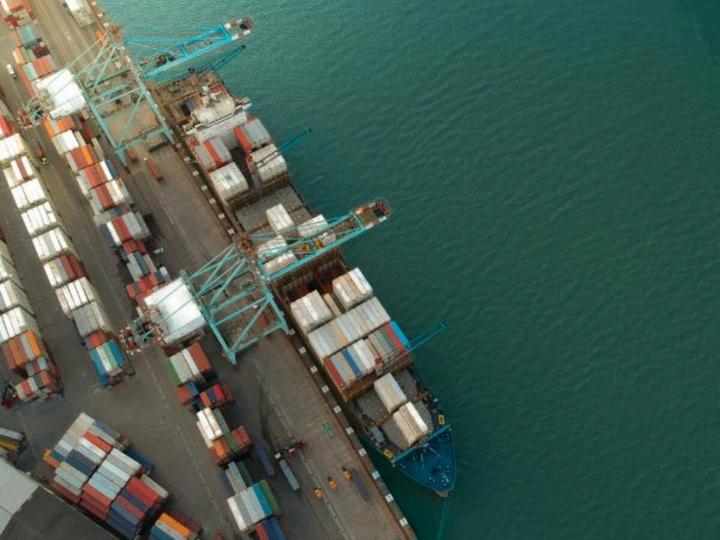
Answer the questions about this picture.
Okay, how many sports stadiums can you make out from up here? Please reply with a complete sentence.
The picture shows no sports stadiums.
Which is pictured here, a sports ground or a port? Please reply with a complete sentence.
This looks like a port.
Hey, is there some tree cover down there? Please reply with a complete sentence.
No, there's no tree cover in this view.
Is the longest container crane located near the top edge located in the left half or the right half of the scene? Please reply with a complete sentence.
The longest container crane located near the top edge appears in the left half of the scene.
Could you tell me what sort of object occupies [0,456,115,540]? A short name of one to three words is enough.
shed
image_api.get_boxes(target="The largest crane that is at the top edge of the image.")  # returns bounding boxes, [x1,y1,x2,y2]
[17,18,259,169]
